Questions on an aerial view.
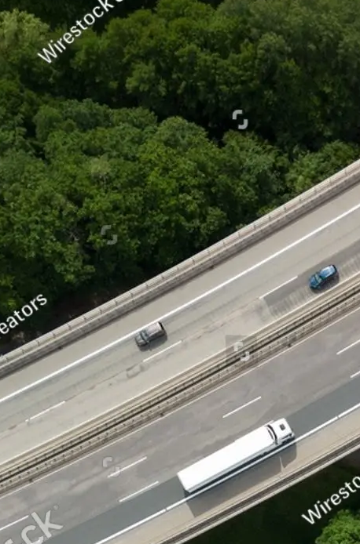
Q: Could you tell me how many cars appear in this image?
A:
2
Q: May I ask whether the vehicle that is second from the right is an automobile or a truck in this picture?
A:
truck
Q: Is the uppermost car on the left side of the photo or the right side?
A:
right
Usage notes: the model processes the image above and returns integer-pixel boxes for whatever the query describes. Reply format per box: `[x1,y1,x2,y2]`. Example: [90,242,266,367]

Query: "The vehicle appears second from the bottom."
[133,322,169,350]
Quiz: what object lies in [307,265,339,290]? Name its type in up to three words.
car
